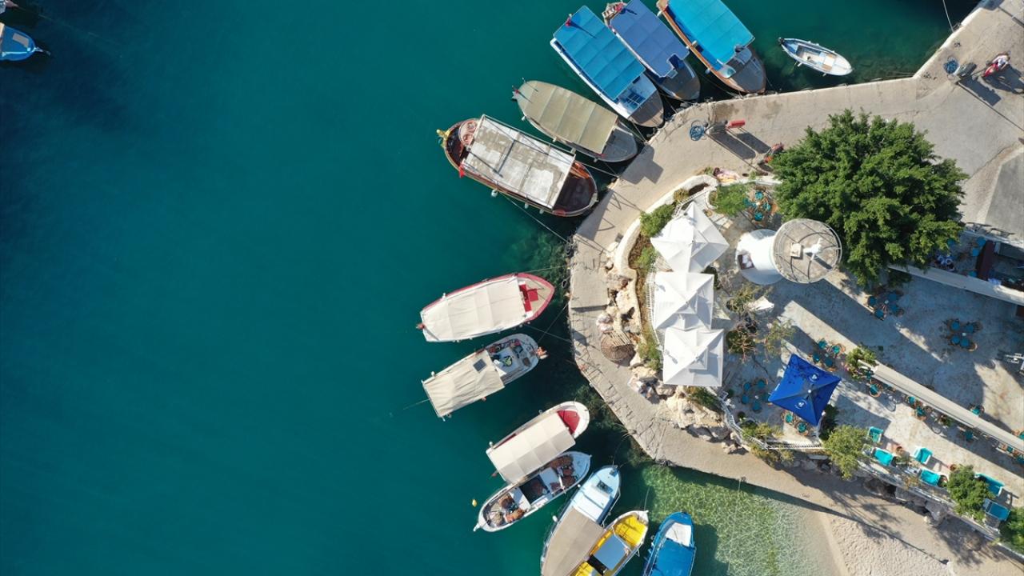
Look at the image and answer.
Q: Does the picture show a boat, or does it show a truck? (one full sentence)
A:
This aerial view contains a boat.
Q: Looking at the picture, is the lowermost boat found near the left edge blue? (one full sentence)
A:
Yes, the lowermost boat found near the left edge is indeed blue.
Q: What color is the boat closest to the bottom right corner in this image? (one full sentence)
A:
The boat closest to the bottom right corner looks blue in the image.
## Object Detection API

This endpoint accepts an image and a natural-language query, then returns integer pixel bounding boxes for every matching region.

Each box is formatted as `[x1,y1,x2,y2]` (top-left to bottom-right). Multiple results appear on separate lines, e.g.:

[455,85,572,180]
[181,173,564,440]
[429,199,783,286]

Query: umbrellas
[651,272,715,330]
[767,353,841,425]
[662,326,724,387]
[650,201,730,273]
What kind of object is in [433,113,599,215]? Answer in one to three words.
boat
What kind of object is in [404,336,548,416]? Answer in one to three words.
boat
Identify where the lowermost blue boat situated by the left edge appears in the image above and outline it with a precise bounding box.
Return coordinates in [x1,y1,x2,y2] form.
[0,23,50,62]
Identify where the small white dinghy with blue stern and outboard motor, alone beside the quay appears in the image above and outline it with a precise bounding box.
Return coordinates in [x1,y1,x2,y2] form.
[774,38,854,77]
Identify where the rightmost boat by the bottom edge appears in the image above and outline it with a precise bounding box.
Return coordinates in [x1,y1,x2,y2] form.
[645,510,696,576]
